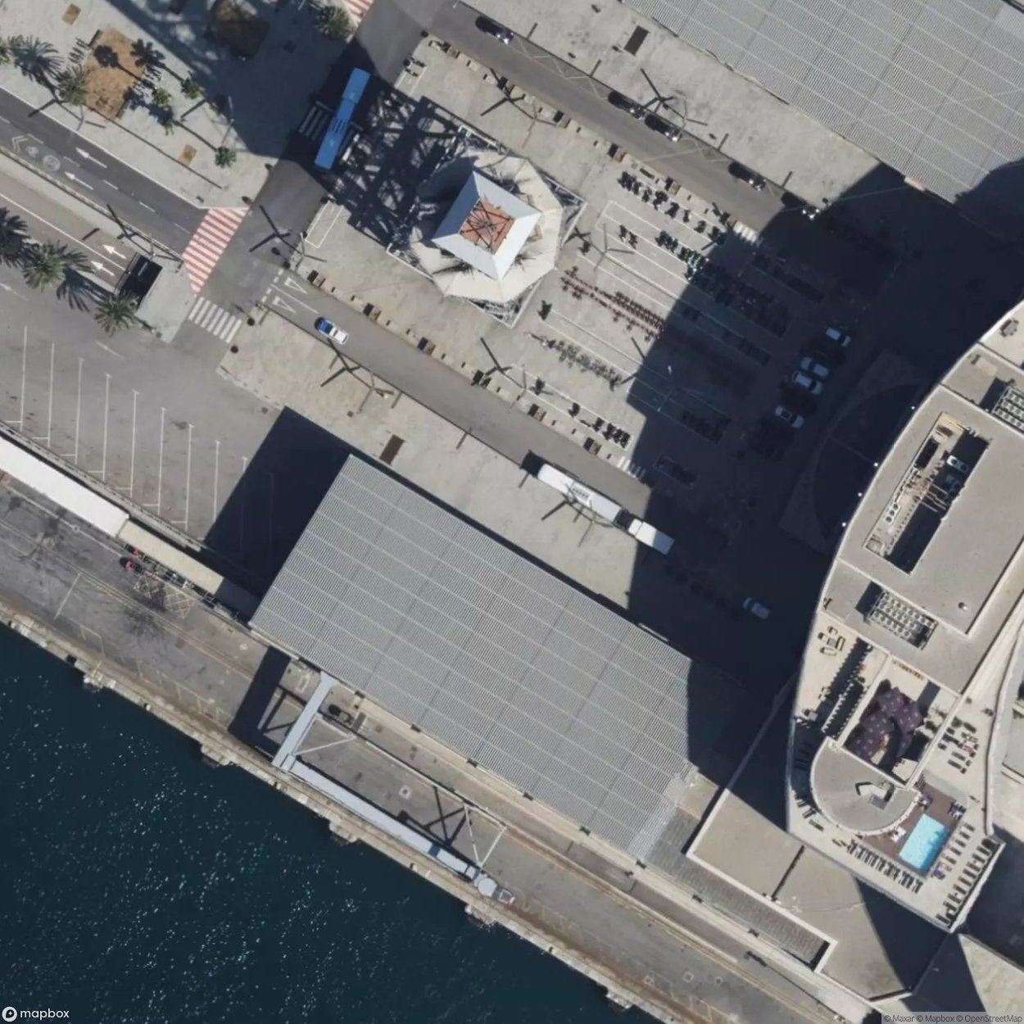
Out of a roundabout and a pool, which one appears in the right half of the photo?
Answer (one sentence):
You can see a pool in the right half of the photo.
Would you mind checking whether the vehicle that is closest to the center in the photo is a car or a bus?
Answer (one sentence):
The vehicle that is closest to the center is a bus.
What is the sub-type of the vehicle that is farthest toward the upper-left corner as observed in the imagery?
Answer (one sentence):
Specifically, the vehicle that is farthest toward the upper-left corner is a bus.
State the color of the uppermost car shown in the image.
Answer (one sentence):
The uppermost car looks black in the image.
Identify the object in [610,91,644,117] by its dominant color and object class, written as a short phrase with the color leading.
black car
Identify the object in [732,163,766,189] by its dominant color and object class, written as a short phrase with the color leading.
black car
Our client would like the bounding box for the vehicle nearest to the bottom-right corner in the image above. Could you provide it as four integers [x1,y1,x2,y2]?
[740,596,772,621]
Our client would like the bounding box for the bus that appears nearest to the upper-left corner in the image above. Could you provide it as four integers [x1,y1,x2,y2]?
[315,69,371,170]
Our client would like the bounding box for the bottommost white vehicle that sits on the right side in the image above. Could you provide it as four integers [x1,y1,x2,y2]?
[625,517,673,554]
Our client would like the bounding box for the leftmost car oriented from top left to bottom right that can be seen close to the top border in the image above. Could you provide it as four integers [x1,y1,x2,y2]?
[478,16,512,42]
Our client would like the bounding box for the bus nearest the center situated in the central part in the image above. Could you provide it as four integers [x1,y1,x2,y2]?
[537,463,621,522]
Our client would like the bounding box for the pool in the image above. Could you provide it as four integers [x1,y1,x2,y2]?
[898,812,951,872]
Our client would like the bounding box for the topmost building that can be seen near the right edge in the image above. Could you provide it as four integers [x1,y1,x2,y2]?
[622,0,1024,243]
